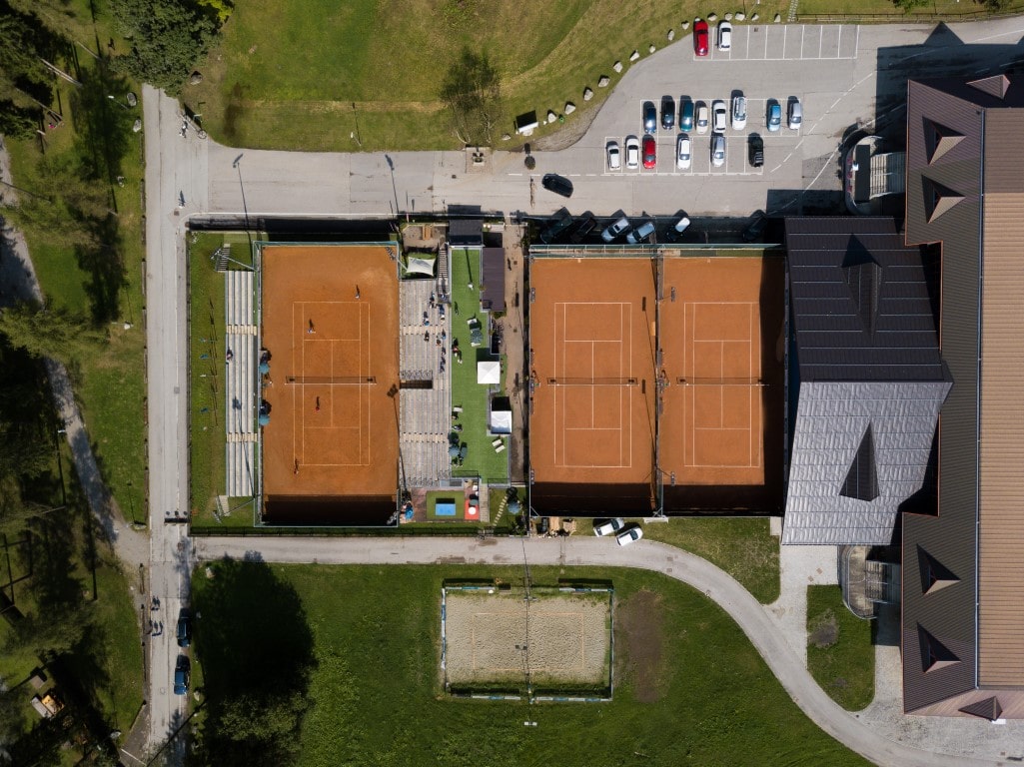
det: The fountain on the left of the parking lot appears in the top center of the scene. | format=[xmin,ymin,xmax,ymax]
[469,144,486,165]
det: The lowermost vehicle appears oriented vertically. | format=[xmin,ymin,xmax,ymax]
[173,662,190,695]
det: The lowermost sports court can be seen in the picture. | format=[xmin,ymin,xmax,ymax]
[446,596,606,683]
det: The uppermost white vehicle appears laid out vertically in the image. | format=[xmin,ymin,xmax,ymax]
[717,22,731,51]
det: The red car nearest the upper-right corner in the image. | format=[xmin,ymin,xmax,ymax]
[693,21,710,57]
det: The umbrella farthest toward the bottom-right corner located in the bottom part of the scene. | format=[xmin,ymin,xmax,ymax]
[507,503,521,516]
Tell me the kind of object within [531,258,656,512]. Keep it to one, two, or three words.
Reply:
tennis court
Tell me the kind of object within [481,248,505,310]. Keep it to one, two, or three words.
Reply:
building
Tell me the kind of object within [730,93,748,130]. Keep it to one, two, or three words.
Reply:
car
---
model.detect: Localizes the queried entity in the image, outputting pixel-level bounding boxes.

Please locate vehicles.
[624,137,640,169]
[695,105,711,132]
[693,21,710,57]
[675,135,692,168]
[787,99,803,130]
[665,214,691,241]
[627,220,655,243]
[710,134,727,168]
[602,216,630,240]
[712,101,728,134]
[605,142,620,169]
[175,614,193,647]
[173,662,190,695]
[613,523,646,549]
[660,98,676,127]
[730,93,748,130]
[717,22,731,51]
[747,135,765,168]
[642,102,658,132]
[569,215,598,244]
[679,97,695,131]
[593,518,626,538]
[542,175,575,196]
[766,103,782,132]
[642,139,657,168]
